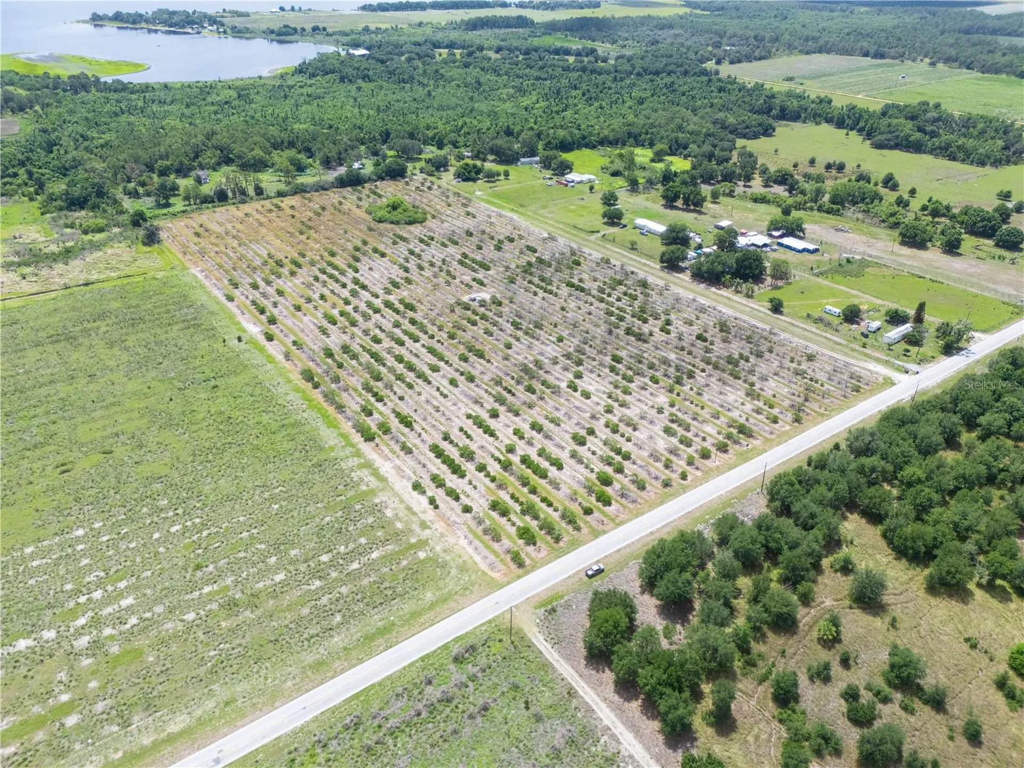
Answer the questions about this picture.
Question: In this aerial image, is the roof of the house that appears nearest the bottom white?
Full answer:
Yes, the roof of the house that appears nearest the bottom is indeed white.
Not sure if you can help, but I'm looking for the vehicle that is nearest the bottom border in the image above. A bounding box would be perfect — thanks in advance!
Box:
[585,563,605,577]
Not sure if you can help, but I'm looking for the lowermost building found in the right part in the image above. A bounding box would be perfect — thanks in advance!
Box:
[883,320,917,344]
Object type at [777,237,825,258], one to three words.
house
